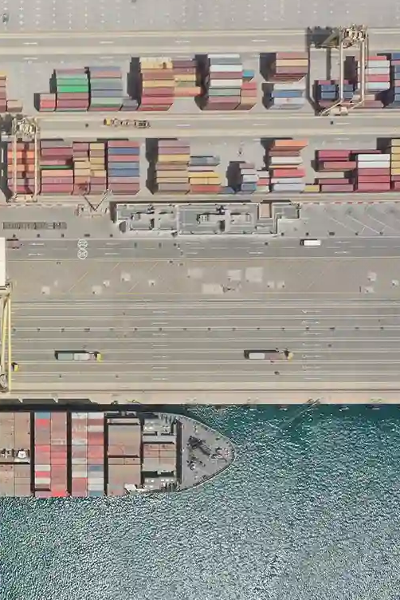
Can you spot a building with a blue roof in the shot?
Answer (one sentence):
No, no building with a blue roof is visible in the view.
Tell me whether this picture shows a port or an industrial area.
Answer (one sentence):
The area seen from above is a port.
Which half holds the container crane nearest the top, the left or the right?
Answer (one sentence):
The container crane nearest the top appears in the right half of the scene.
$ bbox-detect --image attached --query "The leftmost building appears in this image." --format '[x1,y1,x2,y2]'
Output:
[116,204,177,235]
